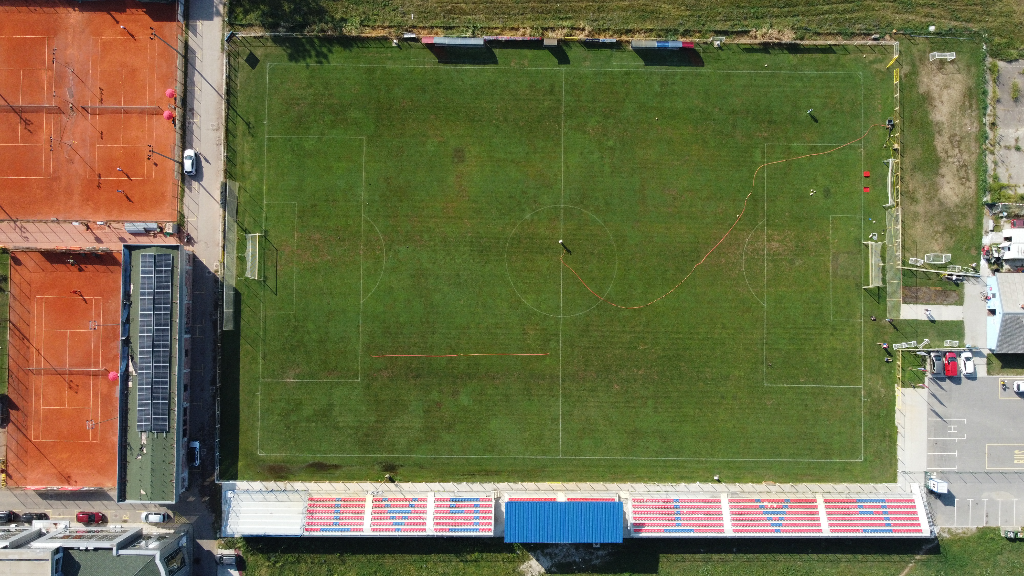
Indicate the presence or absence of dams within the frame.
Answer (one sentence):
No, no dam can be seen from above.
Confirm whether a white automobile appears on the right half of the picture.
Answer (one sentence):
Yes, there is a white automobile on the right half of the picture.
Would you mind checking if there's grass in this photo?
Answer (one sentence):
Yes, some grass is visible.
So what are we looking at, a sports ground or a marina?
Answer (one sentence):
The picture captures a sports ground.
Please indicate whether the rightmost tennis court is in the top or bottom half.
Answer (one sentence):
It is in the top half that the rightmost tennis court appears.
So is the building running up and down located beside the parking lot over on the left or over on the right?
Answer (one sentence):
It is on the right.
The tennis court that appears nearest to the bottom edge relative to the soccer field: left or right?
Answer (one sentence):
Looking at the picture, you'll find the tennis court that appears nearest to the bottom edge to the left of the soccer field.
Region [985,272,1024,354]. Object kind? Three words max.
building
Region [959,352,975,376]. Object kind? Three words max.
car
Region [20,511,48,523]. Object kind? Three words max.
vehicle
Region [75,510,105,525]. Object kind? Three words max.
car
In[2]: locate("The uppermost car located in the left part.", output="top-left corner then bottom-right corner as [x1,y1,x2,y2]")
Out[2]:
[182,150,197,175]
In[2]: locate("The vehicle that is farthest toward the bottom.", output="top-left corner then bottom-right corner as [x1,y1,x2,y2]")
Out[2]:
[215,552,239,567]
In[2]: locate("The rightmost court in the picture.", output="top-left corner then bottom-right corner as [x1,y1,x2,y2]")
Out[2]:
[67,0,178,223]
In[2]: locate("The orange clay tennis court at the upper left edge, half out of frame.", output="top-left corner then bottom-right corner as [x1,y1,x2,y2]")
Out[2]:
[0,0,70,221]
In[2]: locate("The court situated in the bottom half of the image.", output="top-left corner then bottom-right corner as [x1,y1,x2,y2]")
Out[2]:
[6,251,123,487]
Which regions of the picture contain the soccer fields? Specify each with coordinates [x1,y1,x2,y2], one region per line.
[218,36,898,483]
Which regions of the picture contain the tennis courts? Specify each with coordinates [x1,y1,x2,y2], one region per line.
[67,0,178,223]
[6,251,123,487]
[0,0,70,221]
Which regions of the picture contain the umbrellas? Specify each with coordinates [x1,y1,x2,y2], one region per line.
[165,88,177,100]
[108,370,120,382]
[163,110,176,121]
